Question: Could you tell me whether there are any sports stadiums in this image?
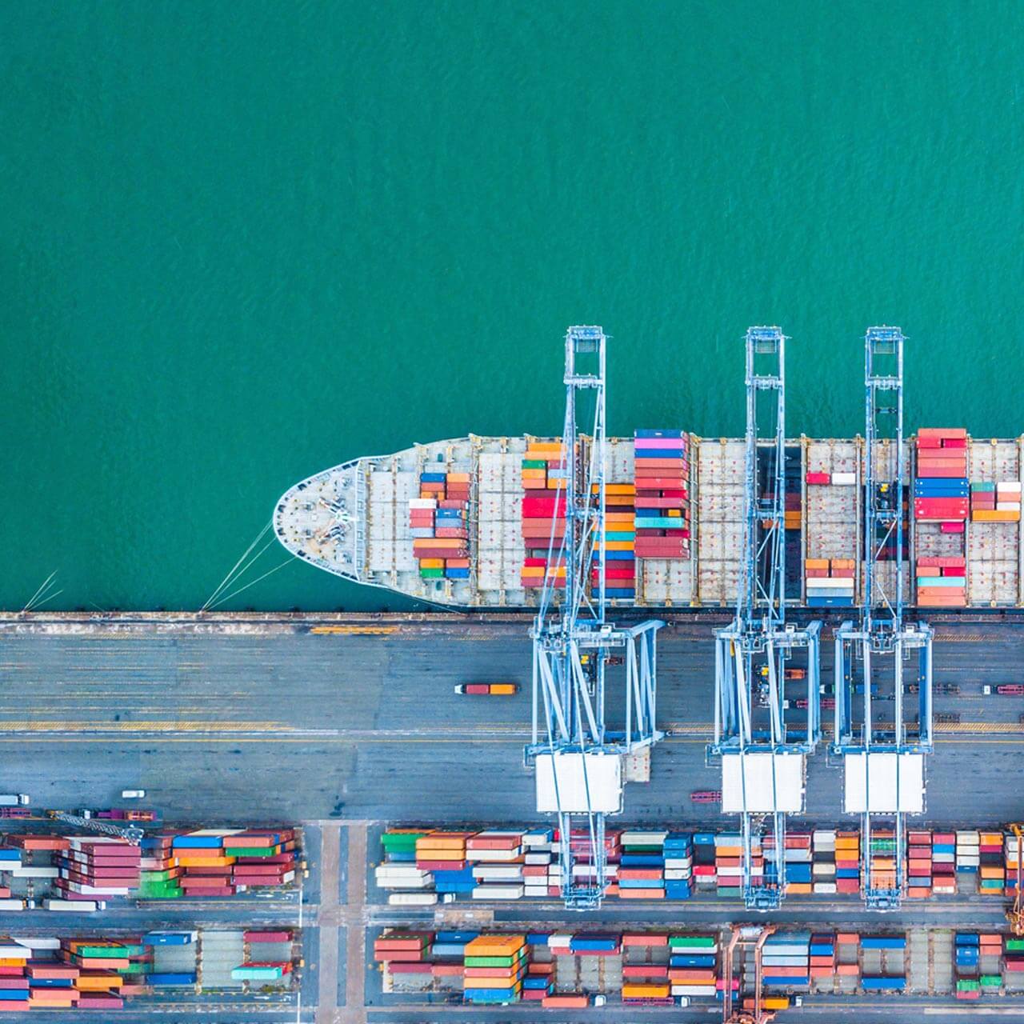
No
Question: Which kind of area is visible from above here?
port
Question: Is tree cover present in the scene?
No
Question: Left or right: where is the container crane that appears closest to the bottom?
right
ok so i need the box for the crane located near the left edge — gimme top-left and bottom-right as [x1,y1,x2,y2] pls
[35,810,144,845]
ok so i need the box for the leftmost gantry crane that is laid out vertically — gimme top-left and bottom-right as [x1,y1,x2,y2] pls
[524,321,671,910]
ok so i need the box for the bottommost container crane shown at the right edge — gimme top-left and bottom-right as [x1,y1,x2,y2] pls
[1004,823,1024,945]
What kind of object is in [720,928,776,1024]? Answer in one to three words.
container crane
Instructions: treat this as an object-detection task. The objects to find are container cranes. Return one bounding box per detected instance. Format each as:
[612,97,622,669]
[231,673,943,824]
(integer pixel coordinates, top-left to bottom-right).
[720,928,776,1024]
[524,321,671,910]
[1004,823,1024,945]
[828,321,941,910]
[705,321,830,910]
